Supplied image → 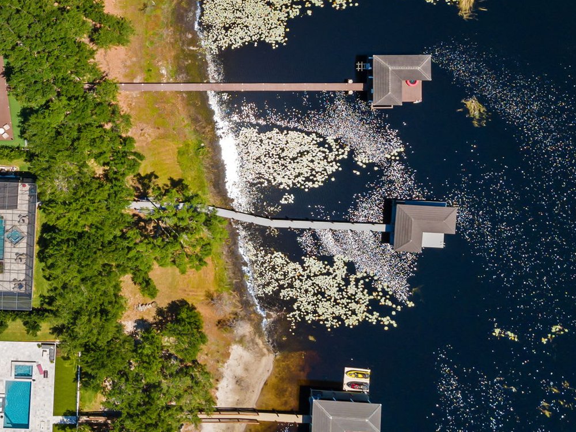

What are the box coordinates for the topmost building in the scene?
[363,54,432,108]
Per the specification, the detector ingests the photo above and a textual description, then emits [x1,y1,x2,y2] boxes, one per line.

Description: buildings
[363,54,432,108]
[381,200,459,253]
[298,387,383,432]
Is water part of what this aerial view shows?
Yes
